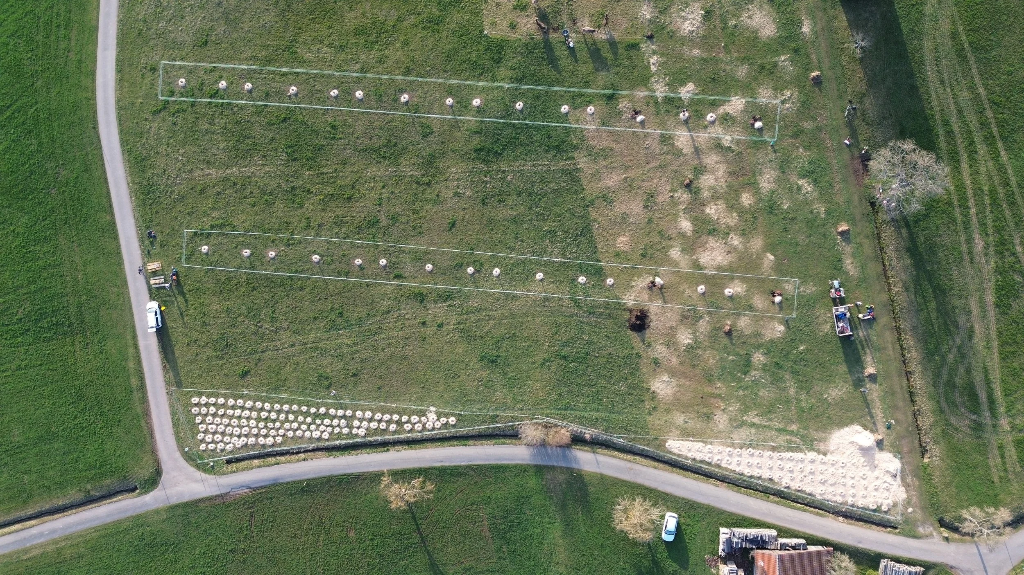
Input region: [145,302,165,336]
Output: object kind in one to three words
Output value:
car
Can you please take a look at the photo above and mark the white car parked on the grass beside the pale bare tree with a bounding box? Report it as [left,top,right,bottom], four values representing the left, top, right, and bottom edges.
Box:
[662,512,678,541]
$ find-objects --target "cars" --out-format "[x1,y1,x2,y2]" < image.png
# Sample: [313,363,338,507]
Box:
[662,512,678,541]
[145,302,165,336]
